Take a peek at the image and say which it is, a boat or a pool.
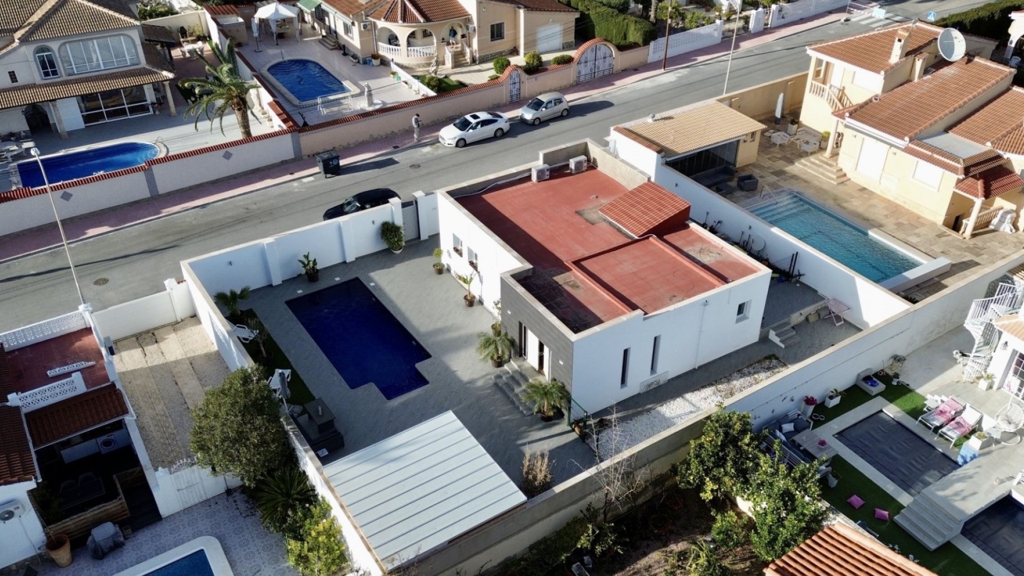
pool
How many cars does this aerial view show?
three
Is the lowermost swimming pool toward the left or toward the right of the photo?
left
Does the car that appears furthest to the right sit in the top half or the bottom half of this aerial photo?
top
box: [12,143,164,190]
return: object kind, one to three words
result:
swimming pool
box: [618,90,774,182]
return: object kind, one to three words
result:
building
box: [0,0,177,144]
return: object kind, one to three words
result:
house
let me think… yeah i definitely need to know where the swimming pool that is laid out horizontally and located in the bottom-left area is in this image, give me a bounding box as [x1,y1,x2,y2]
[120,542,234,576]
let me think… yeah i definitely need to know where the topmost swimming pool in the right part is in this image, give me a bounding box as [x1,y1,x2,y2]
[733,181,957,290]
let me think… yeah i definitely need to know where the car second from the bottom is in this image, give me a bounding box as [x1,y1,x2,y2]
[435,111,511,149]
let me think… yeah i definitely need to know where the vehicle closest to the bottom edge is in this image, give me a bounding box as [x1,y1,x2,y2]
[317,180,407,221]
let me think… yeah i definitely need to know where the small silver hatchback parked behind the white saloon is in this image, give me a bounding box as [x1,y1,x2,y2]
[516,88,569,125]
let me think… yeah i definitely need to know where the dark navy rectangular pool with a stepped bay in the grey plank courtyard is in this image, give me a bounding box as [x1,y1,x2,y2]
[285,276,431,398]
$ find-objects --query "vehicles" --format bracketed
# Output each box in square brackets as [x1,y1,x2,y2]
[435,111,511,149]
[516,88,569,125]
[317,180,407,221]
